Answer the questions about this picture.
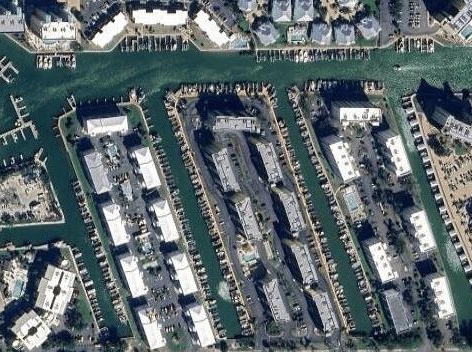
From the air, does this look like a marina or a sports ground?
marina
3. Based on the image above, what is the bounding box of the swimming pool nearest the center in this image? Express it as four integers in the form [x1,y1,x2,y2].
[239,252,260,265]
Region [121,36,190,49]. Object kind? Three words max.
pier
